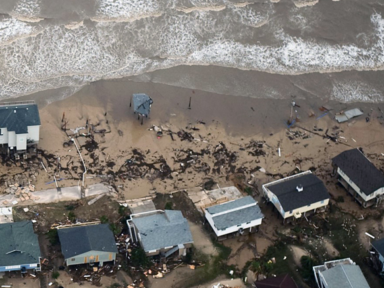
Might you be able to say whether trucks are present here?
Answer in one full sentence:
No, there isn't any truck down there.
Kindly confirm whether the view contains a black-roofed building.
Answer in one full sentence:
Yes, looking at the shot, I can spot a black-roofed building.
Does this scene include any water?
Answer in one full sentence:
Yes, the picture does contain water.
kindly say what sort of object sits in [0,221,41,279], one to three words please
house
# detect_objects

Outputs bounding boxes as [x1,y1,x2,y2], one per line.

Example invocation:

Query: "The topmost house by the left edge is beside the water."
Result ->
[0,101,40,159]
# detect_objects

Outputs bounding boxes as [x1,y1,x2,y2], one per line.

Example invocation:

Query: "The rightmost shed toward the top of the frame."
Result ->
[133,93,152,125]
